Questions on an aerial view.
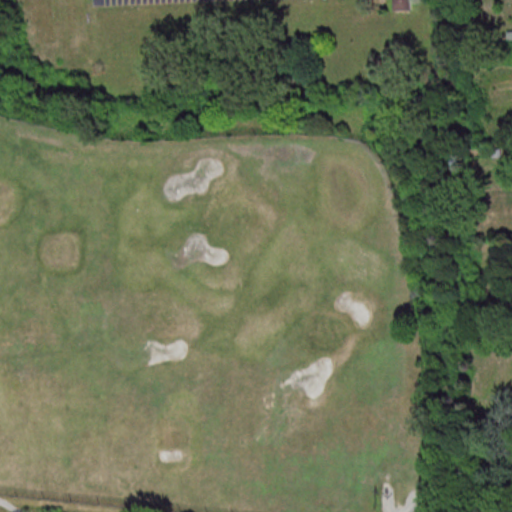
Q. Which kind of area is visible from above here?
golf course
